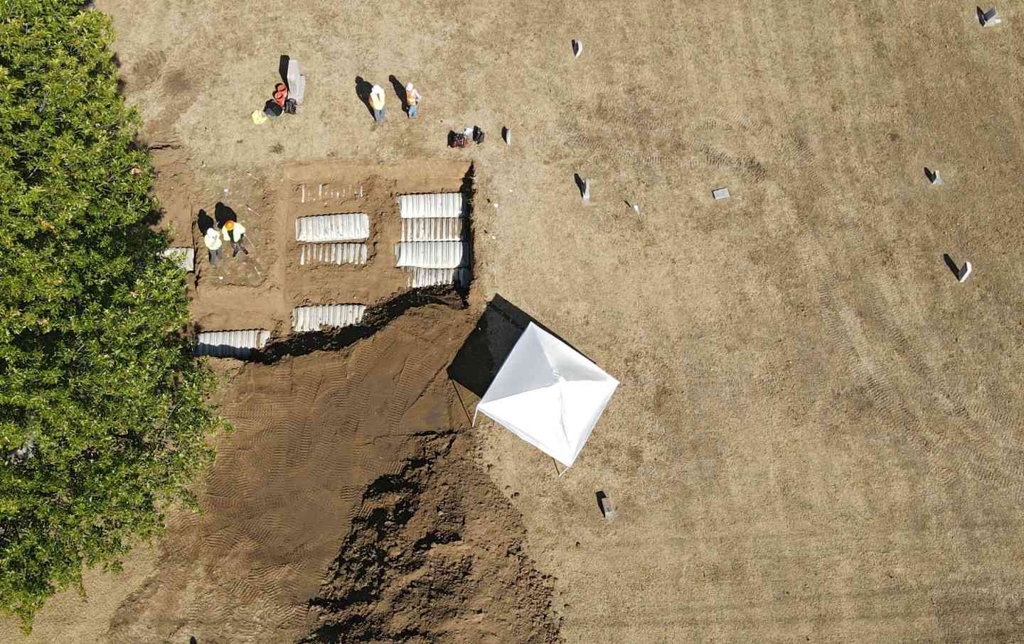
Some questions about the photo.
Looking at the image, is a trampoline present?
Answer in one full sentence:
No, there appears to be no trampoline in this shot.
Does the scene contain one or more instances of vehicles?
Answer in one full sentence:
No, the photo shows no vehicle.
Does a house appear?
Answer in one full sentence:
No, no house can be seen from above.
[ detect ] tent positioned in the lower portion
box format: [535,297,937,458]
[472,325,621,479]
